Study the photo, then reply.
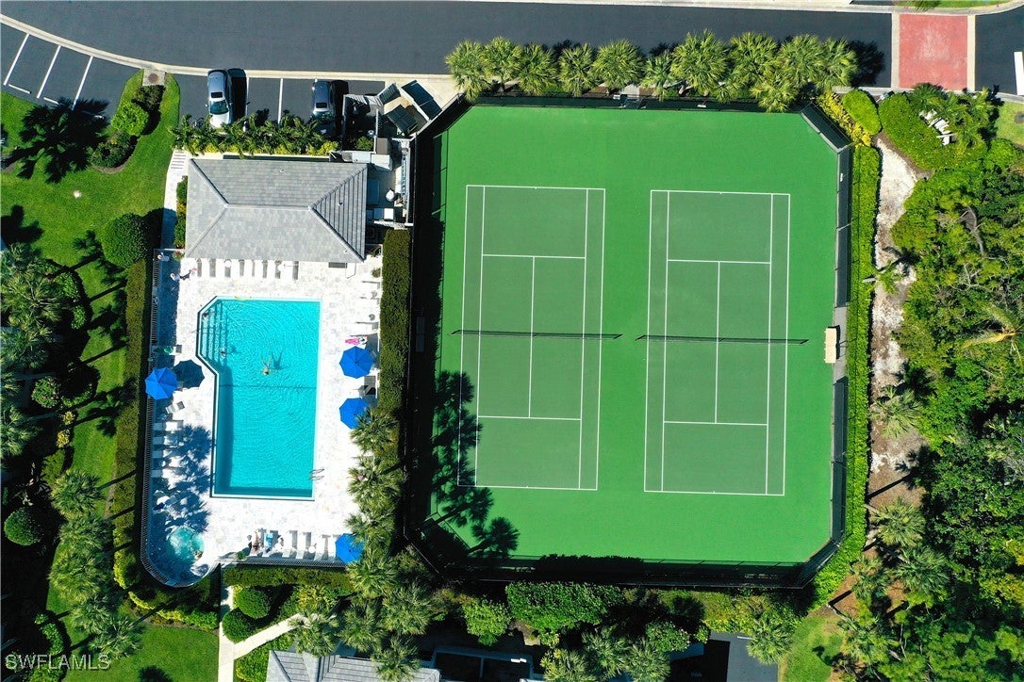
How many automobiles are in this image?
two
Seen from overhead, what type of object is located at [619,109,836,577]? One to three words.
tennis court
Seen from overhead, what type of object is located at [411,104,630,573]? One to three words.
tennis court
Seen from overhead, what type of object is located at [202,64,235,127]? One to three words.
car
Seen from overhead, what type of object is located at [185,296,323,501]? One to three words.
swimming pool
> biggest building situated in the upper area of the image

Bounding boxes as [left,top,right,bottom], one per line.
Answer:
[183,157,367,264]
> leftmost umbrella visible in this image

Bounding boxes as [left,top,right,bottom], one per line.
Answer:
[145,367,179,400]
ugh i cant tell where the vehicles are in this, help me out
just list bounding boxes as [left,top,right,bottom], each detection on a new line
[202,64,235,127]
[308,74,339,137]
